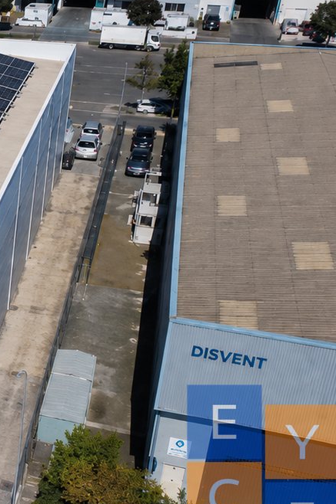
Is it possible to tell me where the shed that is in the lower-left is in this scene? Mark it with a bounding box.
[41,344,101,451]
